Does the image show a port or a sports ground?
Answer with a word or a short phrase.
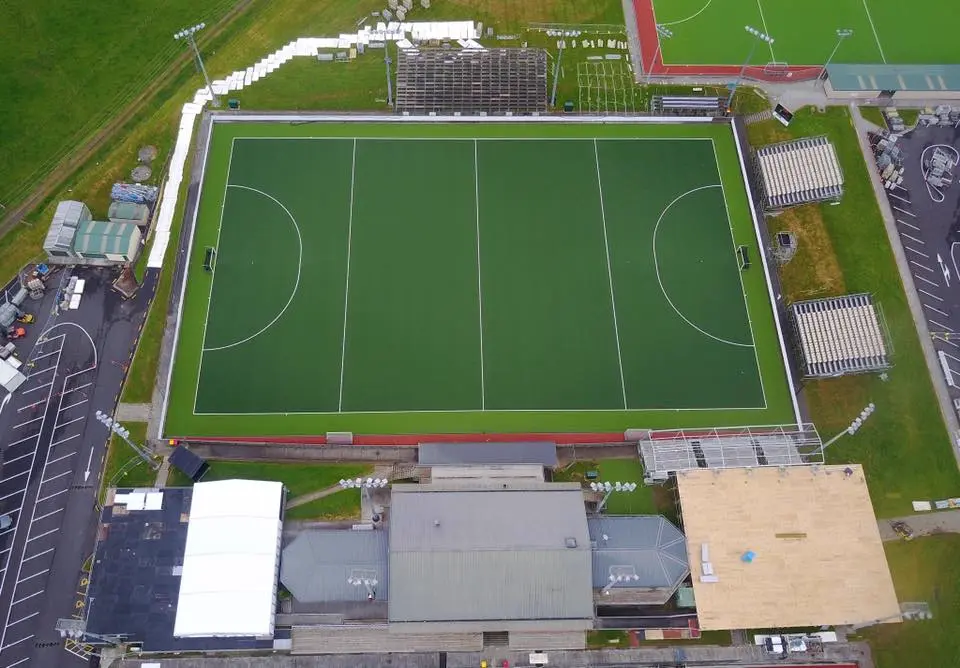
sports ground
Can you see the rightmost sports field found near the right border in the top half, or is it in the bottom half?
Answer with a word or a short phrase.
top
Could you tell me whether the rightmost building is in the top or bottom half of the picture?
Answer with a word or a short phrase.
top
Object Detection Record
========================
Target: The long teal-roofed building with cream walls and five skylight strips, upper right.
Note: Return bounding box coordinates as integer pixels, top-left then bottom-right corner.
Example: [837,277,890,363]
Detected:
[819,64,960,101]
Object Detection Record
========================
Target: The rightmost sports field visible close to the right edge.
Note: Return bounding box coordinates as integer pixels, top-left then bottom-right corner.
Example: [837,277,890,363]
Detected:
[634,0,960,80]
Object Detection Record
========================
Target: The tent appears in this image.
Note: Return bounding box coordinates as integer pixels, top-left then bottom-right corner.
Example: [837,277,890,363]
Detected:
[172,479,291,640]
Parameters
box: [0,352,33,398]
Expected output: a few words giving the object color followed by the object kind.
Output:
white truck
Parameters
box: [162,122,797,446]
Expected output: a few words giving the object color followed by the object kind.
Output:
green sports field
